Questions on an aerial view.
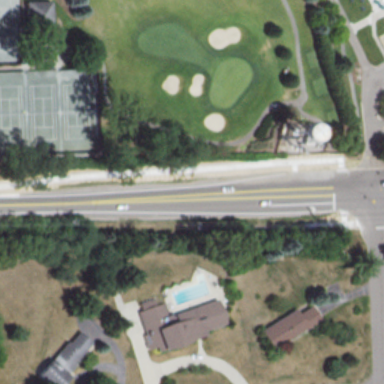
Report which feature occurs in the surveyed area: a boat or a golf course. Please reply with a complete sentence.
Looking from above, you can make out a golf course.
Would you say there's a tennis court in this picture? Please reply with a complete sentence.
Yes, a tennis court is visible in the scene.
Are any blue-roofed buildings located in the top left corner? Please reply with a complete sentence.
No, no blue-roofed building can be made out in the top left corner.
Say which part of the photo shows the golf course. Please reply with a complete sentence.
You can find the golf course in the top area of the picture.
